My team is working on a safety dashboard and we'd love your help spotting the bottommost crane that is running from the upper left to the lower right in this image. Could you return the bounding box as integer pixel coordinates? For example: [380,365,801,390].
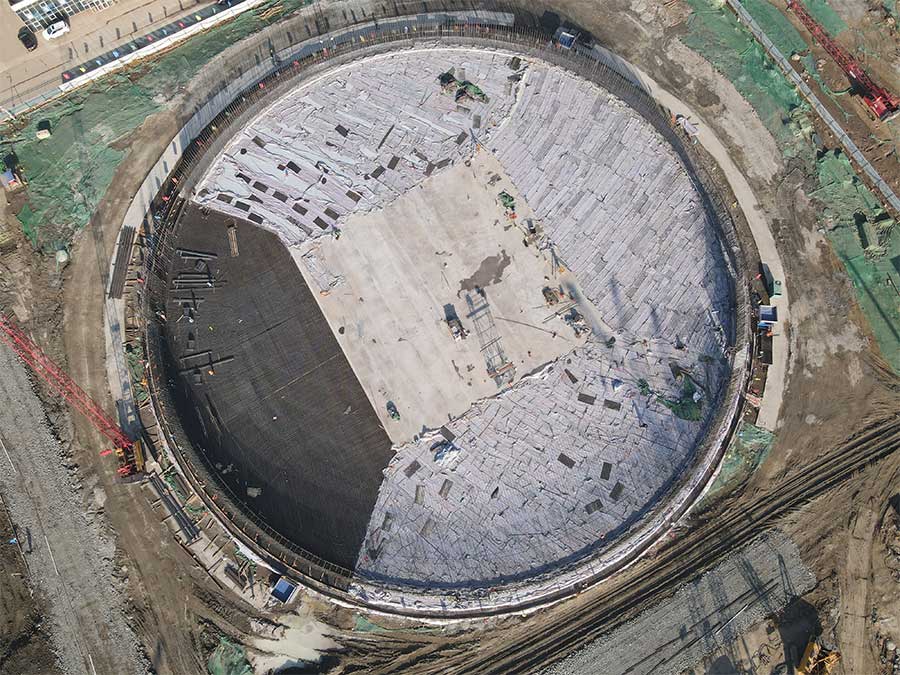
[0,320,149,485]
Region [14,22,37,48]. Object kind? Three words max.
car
